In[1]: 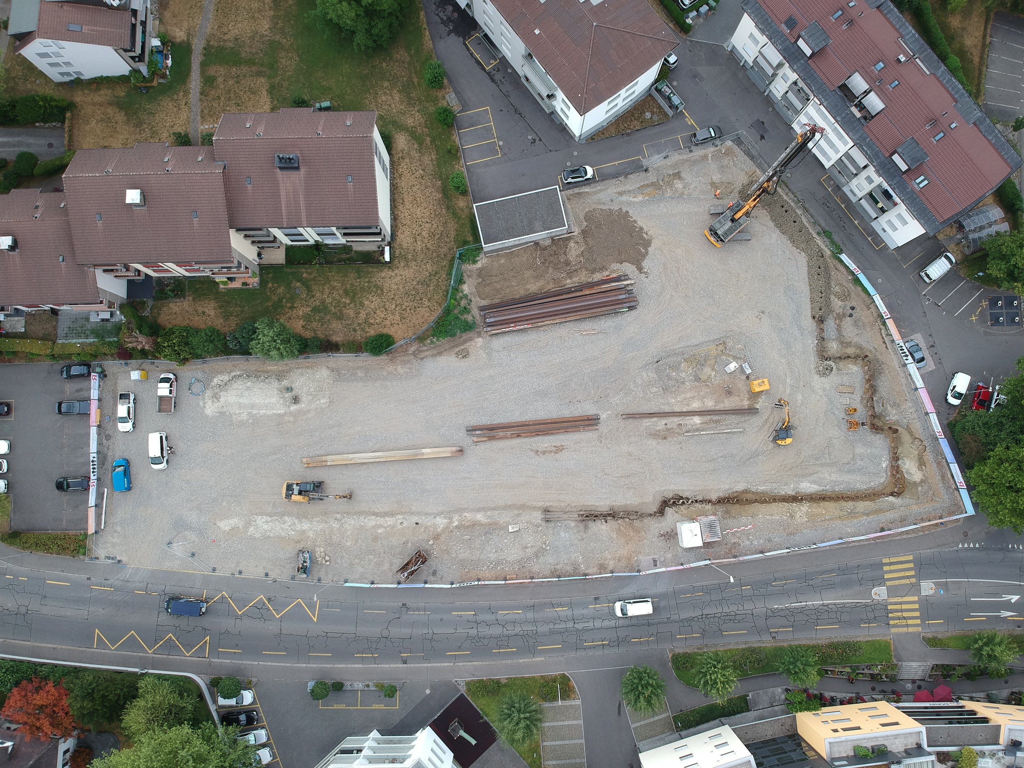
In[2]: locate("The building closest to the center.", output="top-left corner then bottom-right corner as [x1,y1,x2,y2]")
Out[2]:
[467,184,569,255]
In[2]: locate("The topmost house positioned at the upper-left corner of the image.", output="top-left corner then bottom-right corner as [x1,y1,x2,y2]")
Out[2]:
[8,0,157,82]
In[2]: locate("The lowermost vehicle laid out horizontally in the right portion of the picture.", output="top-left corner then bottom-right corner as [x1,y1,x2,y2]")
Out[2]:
[613,598,653,618]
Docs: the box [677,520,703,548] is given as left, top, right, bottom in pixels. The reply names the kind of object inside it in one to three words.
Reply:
shed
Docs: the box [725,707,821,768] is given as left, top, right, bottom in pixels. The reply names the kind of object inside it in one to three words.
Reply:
building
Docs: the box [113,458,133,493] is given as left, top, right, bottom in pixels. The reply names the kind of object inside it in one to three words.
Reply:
vehicle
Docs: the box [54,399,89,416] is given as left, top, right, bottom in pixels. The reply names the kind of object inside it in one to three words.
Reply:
car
